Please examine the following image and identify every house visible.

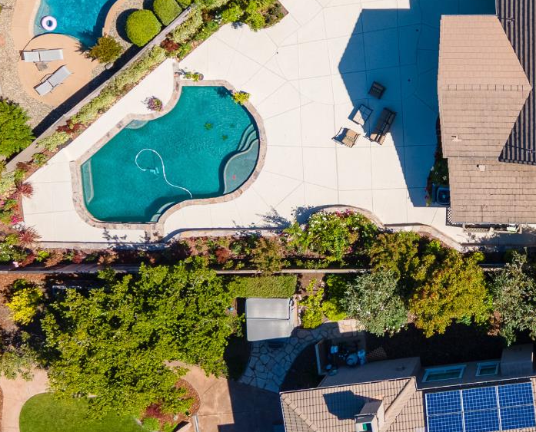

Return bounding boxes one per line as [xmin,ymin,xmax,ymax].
[439,0,536,227]
[278,335,536,432]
